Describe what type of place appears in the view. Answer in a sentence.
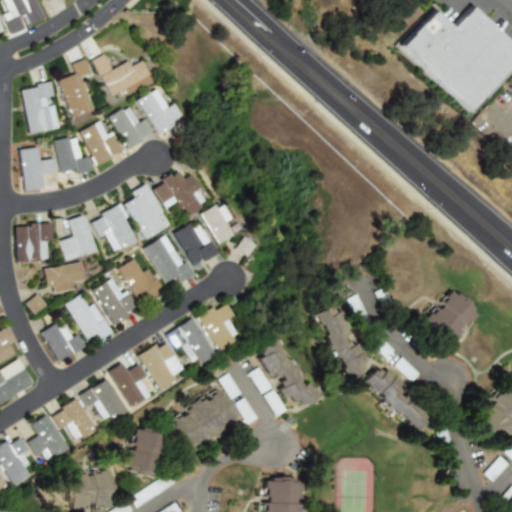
The picture captures a residential area.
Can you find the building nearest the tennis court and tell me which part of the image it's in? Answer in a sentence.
Look in the bottom portion of the view to spot the building nearest the tennis court.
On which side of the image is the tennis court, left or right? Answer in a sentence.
You can find the tennis court on the right side of the picture.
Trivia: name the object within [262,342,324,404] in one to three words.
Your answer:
building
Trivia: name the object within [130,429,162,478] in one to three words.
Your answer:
building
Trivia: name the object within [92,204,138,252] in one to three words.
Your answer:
house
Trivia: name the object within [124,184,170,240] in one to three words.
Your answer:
house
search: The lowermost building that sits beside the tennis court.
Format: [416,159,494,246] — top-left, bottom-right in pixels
[259,478,310,512]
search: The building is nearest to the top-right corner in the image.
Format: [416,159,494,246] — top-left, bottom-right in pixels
[404,6,512,112]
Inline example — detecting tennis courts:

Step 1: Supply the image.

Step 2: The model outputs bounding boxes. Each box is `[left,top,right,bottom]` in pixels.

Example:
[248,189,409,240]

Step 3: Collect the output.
[334,457,376,512]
